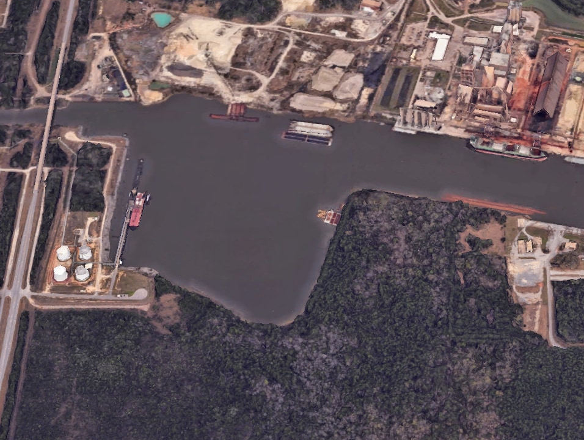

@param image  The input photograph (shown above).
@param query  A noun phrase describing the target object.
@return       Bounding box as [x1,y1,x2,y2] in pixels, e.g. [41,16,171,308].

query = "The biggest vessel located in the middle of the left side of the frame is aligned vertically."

[129,193,147,228]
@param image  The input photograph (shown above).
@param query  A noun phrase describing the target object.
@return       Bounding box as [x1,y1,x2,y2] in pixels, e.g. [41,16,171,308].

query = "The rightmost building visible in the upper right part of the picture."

[533,53,568,119]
